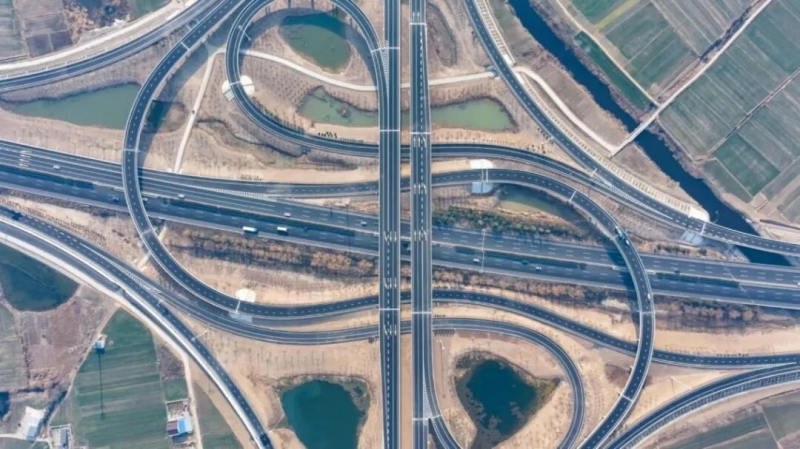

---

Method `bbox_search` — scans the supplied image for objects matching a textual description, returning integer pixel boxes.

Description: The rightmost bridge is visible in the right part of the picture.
[684,201,800,257]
